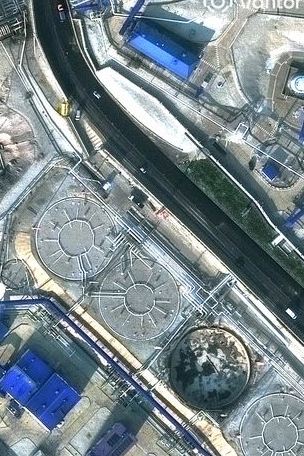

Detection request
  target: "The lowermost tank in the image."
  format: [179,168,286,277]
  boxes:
[240,393,304,456]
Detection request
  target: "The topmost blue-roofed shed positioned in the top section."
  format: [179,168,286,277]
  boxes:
[127,25,200,81]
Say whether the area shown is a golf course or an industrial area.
industrial area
